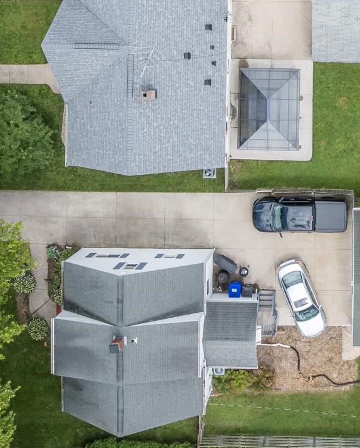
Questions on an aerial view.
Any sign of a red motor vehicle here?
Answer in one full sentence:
No, there isn't any red motor vehicle down there.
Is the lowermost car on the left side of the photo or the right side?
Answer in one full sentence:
It is on the right.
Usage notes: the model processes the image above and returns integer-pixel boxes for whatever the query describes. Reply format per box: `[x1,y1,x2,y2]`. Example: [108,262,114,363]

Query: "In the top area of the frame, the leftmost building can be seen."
[41,0,236,176]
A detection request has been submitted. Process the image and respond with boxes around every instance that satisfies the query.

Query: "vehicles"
[253,197,352,240]
[276,258,325,340]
